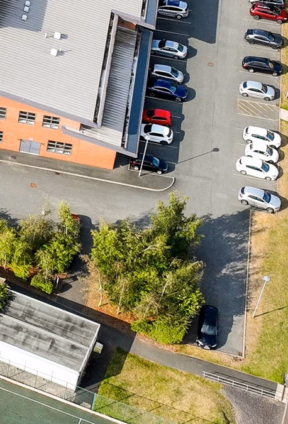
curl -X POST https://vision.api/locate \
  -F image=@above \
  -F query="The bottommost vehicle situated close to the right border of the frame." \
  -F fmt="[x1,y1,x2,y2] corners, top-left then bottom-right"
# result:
[236,183,284,213]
